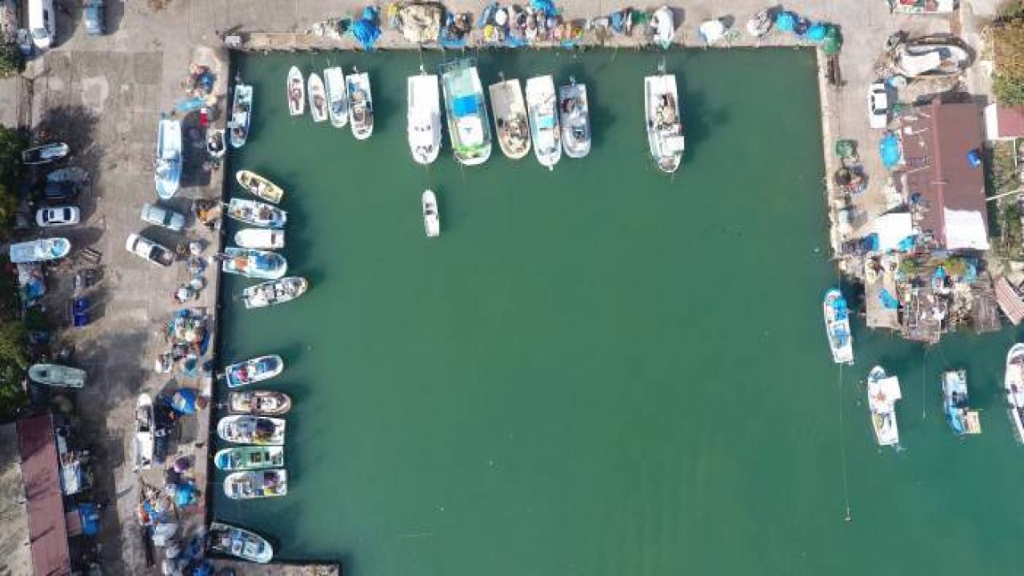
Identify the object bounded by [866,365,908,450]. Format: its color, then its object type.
white boat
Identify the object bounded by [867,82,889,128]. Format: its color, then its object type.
white car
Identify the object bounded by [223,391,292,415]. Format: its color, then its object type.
white boat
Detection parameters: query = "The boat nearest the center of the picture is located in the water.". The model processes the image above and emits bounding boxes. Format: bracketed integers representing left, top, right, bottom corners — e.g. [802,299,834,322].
[424,189,439,240]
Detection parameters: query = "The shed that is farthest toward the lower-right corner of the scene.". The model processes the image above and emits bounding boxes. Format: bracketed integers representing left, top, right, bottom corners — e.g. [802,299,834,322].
[992,275,1024,327]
